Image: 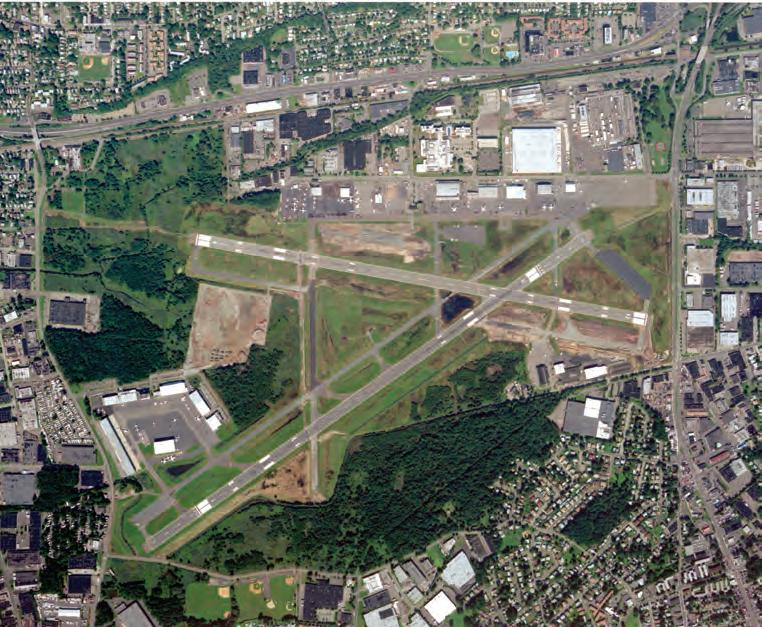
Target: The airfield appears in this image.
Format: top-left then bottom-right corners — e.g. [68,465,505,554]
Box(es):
[109,178,657,553]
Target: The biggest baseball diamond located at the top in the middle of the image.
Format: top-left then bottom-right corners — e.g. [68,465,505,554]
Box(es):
[432,32,475,52]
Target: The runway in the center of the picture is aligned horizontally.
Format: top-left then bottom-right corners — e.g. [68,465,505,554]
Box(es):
[195,234,649,326]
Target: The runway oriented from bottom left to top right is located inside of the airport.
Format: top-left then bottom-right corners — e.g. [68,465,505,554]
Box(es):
[146,229,592,551]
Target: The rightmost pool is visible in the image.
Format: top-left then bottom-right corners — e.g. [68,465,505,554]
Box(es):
[504,44,519,60]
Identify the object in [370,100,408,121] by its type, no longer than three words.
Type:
building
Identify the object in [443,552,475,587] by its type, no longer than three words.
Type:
building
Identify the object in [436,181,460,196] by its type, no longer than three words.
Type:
hangar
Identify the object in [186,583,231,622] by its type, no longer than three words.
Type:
baseball field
